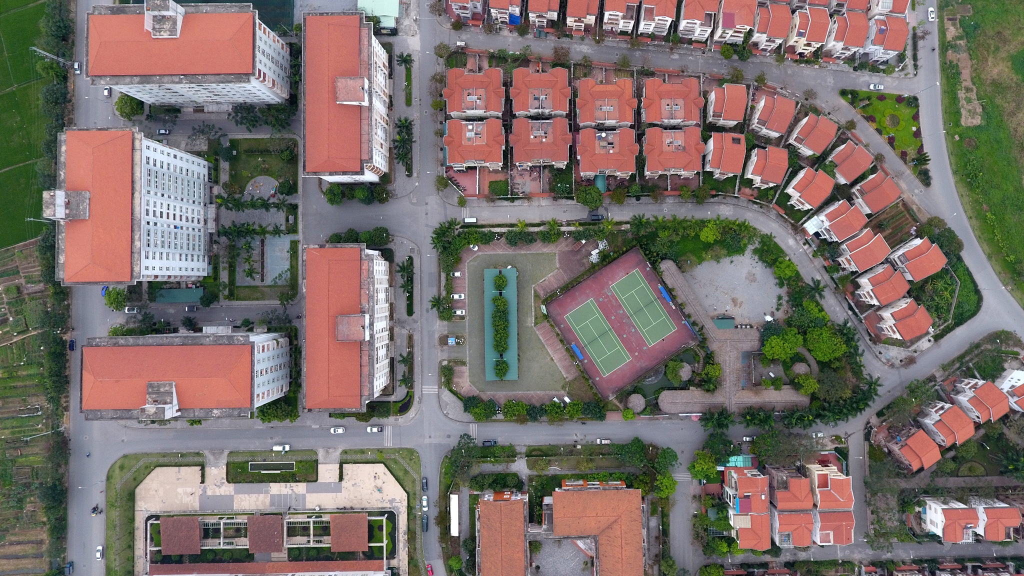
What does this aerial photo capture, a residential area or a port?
residential area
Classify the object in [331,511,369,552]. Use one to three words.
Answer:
building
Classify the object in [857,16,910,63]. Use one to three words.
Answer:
house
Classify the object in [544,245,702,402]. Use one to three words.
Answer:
tennis court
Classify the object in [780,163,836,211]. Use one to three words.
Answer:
house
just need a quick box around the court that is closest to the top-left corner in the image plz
[215,0,293,33]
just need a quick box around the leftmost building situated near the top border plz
[83,0,287,118]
